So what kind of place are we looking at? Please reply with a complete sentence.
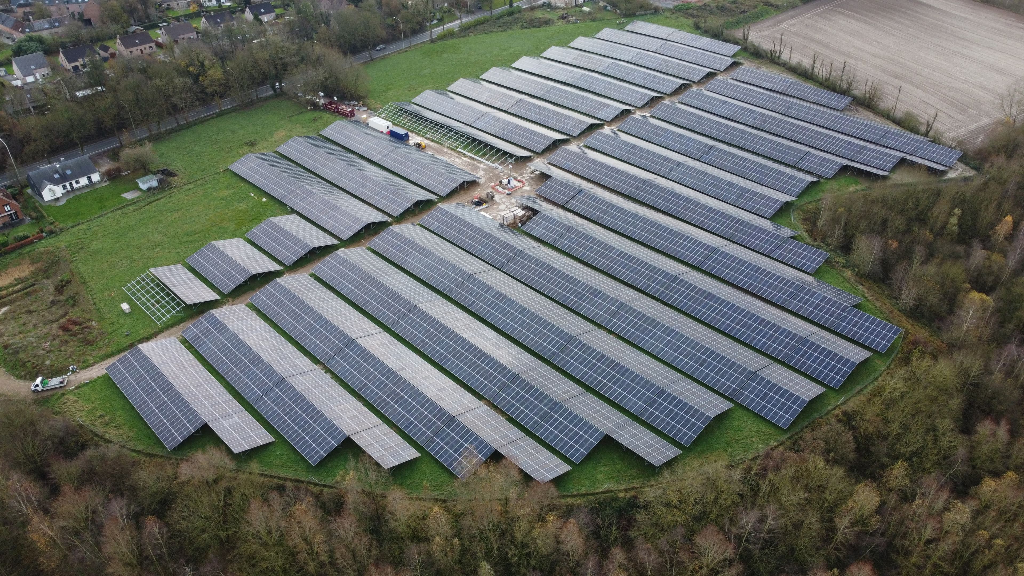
What you see here is a solar farm.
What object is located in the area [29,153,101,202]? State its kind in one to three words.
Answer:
house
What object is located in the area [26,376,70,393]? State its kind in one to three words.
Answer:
vehicle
